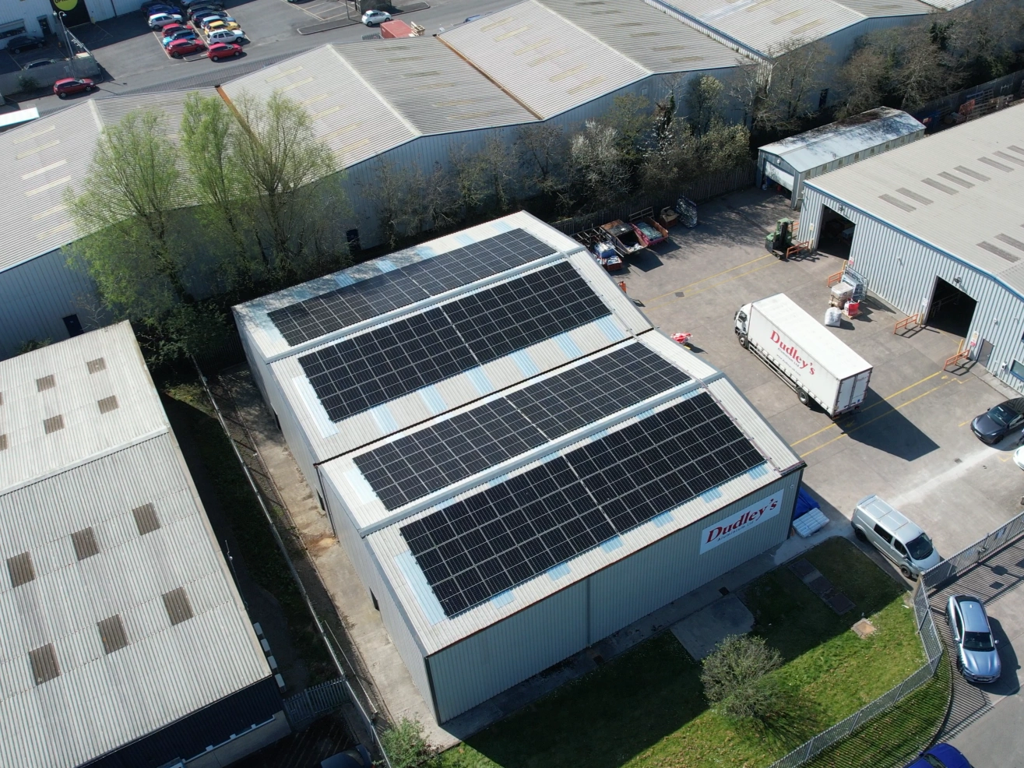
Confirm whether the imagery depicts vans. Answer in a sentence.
Yes, a van is visible in the scene.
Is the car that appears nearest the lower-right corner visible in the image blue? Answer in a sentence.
Yes, the car that appears nearest the lower-right corner is indeed blue.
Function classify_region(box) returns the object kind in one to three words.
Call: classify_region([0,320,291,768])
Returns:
building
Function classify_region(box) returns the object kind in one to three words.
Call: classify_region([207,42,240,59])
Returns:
car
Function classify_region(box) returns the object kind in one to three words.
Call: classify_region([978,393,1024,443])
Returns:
car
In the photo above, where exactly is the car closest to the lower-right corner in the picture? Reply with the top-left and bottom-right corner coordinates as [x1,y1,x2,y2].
[914,740,978,768]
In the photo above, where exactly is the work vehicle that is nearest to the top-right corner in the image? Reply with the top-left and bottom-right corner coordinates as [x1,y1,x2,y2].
[758,215,799,258]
